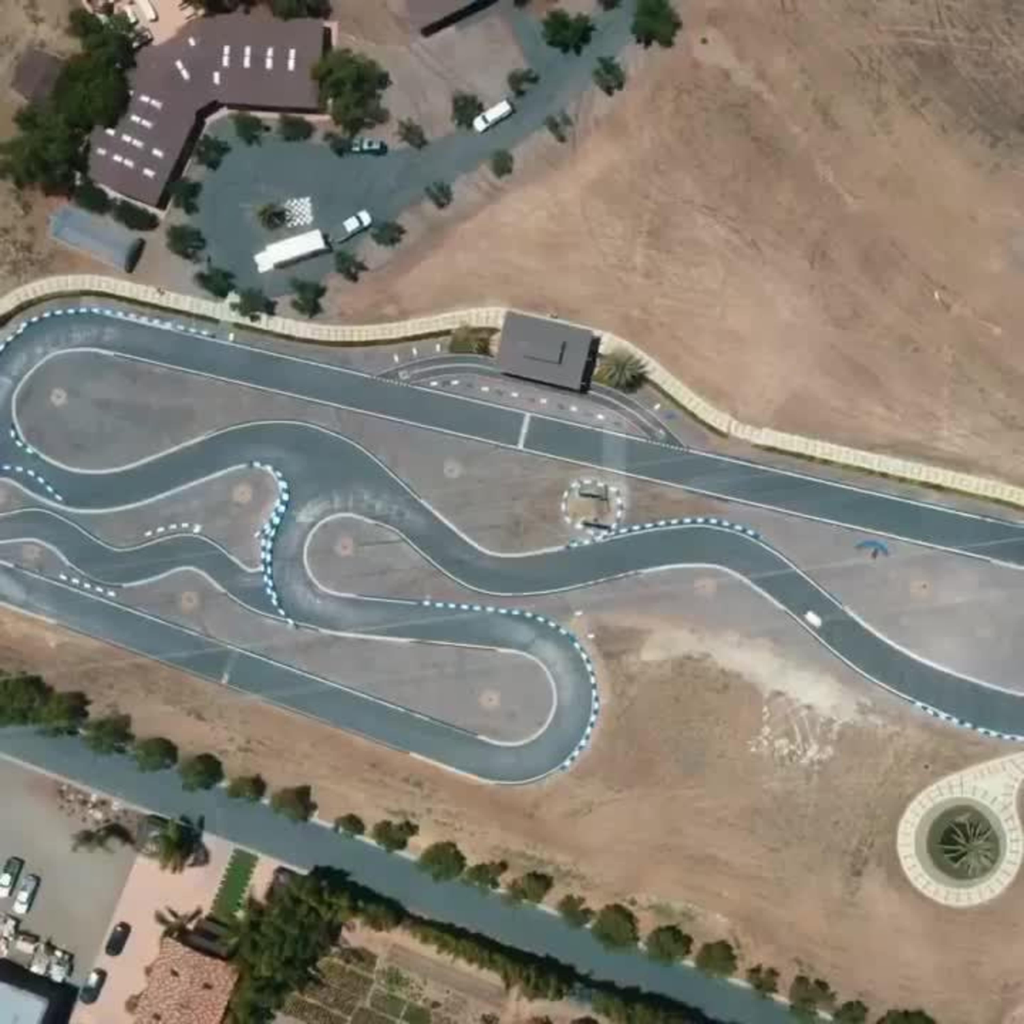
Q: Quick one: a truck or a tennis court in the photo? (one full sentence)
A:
Looking from above, you can make out a truck.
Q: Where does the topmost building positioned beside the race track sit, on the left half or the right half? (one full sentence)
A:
The topmost building positioned beside the race track sits on the left side.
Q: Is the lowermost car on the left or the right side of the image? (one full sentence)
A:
You can find the lowermost car on the left side of the picture.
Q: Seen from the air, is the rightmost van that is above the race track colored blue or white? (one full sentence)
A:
From above, the rightmost van that is above the race track appears white.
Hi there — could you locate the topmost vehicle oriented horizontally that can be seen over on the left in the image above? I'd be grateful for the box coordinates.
[352,138,386,155]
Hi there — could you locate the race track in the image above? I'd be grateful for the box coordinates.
[0,312,1024,783]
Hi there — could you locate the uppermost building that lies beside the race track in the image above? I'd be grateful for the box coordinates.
[87,13,324,213]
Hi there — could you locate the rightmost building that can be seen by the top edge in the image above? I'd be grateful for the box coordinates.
[407,0,488,40]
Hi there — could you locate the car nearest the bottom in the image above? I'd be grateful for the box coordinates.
[82,967,107,1003]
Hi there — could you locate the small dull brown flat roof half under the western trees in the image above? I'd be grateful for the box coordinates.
[12,42,68,105]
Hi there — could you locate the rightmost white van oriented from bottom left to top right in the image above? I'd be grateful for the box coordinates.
[470,98,516,134]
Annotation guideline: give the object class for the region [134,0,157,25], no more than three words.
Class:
camper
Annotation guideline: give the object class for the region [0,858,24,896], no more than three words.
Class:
truck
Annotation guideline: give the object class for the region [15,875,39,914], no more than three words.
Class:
truck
